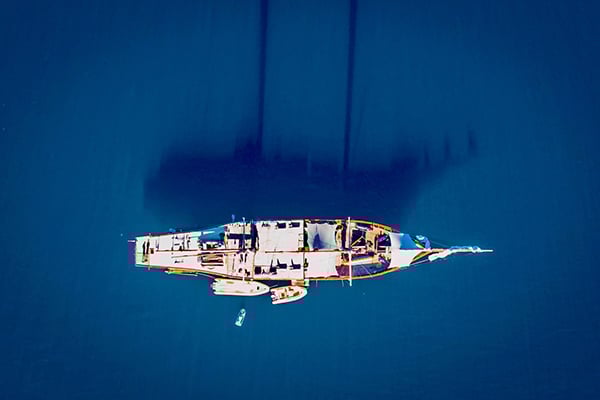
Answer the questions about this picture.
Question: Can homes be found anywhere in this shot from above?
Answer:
No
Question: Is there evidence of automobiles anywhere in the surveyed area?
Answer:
No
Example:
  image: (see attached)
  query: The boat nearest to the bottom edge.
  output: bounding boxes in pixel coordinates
[233,309,246,327]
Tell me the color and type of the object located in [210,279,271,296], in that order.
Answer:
white boat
